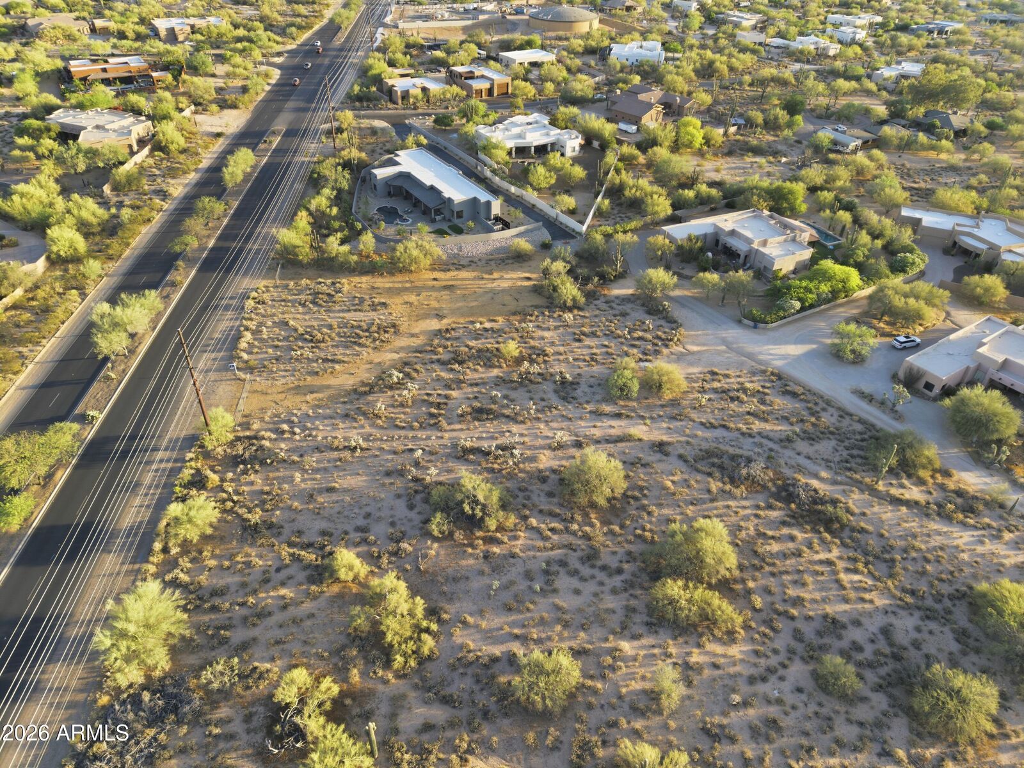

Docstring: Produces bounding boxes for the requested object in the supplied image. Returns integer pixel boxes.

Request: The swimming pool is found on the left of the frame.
[375,205,411,224]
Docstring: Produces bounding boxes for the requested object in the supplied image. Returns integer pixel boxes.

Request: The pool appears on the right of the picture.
[800,219,842,246]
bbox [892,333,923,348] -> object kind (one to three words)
car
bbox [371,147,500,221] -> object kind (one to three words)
house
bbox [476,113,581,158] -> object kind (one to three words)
house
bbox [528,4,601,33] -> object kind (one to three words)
water tank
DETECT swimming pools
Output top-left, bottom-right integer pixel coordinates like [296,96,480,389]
[375,205,411,224]
[800,219,842,246]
